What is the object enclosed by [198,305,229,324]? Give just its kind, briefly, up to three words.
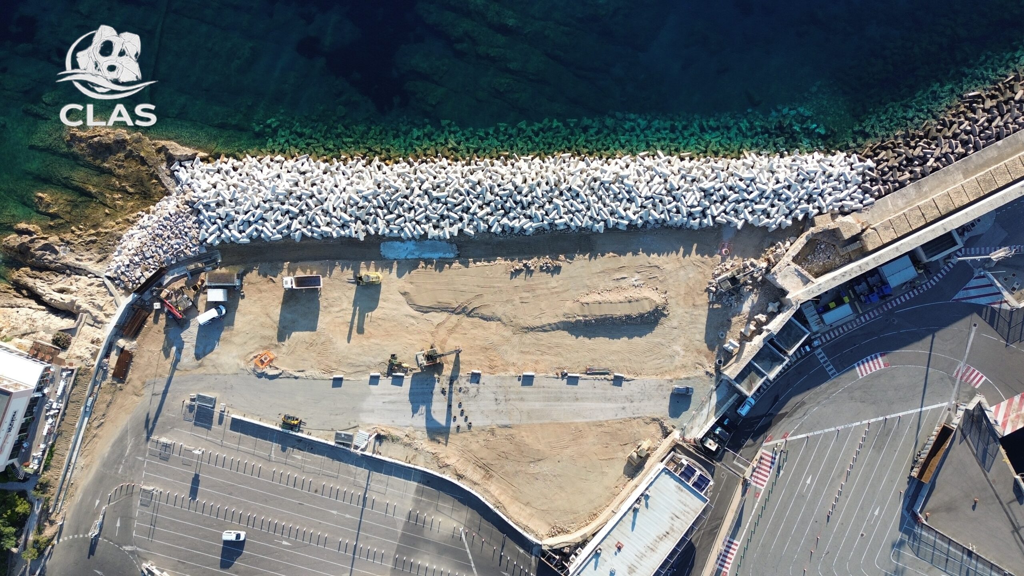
vehicle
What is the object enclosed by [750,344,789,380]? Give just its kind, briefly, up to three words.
building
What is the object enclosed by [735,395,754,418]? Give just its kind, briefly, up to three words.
car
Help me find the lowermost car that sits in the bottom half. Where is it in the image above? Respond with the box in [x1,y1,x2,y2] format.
[223,529,247,542]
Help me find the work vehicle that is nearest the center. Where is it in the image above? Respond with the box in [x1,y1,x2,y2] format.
[411,343,467,368]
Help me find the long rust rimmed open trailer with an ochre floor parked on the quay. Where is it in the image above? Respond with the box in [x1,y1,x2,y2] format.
[904,420,955,483]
